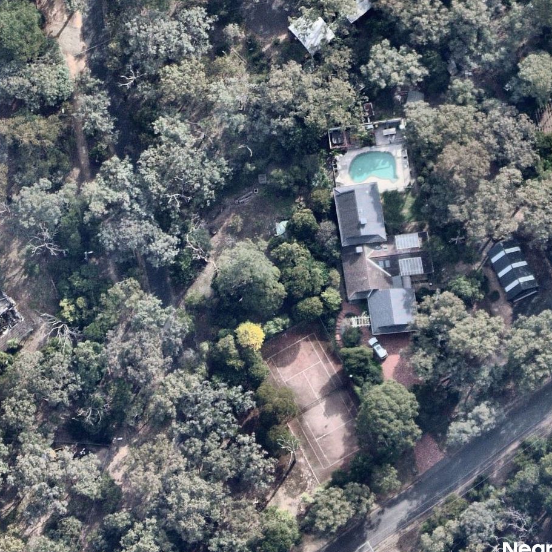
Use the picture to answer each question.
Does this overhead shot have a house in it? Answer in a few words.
Yes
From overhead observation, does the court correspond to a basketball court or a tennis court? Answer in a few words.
tennis court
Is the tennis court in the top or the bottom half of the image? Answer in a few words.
bottom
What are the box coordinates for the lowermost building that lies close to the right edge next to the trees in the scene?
[486,239,538,302]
